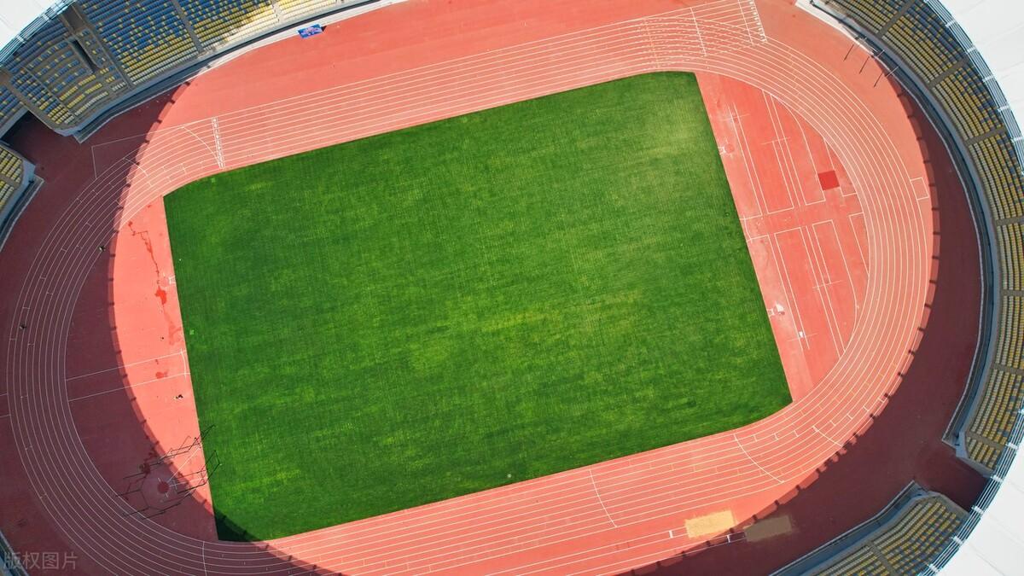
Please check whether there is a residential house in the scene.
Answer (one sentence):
No, no residential house can be seen from above.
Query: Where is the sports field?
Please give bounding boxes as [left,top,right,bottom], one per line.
[162,71,794,544]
